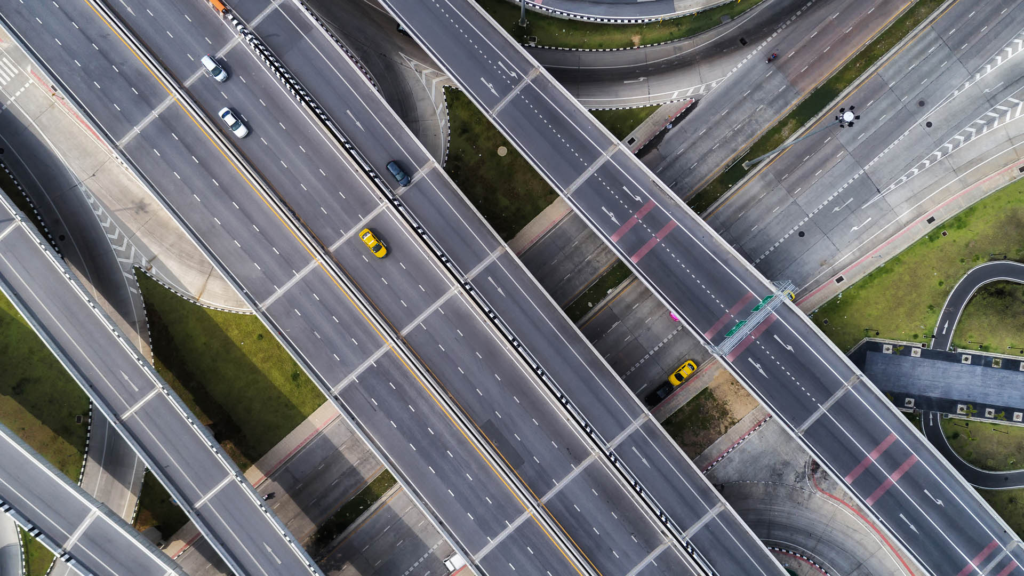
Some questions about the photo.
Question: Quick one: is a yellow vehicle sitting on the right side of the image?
Yes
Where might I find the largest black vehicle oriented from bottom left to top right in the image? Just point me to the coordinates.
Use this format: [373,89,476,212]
[643,383,676,411]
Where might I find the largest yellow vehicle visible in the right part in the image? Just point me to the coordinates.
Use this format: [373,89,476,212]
[667,358,699,387]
